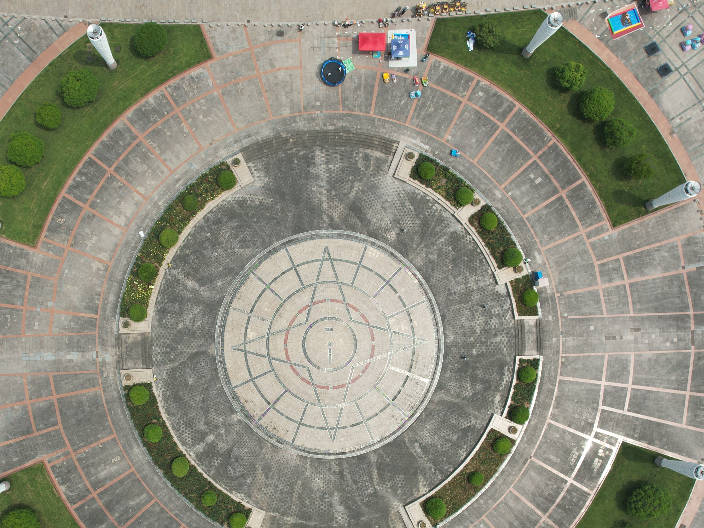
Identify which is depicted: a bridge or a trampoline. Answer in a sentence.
Visible in the photo is a trampoline.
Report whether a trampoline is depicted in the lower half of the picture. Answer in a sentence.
No, in the lower half of the picture there is no trampoline.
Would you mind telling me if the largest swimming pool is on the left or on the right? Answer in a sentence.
The largest swimming pool appears in the right half of the scene.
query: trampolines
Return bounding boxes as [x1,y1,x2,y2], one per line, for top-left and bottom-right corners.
[645,41,661,58]
[658,57,673,79]
[321,56,346,84]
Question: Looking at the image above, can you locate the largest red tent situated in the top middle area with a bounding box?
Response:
[358,32,386,57]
